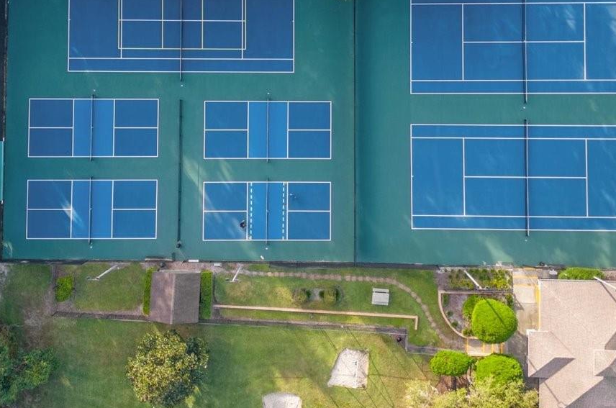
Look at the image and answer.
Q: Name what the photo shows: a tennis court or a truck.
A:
tennis court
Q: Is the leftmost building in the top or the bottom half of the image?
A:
bottom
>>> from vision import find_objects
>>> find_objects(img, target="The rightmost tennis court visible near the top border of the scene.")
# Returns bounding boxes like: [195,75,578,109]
[410,0,616,93]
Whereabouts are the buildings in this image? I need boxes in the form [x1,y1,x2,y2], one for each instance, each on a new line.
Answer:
[522,280,616,408]
[150,269,202,324]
